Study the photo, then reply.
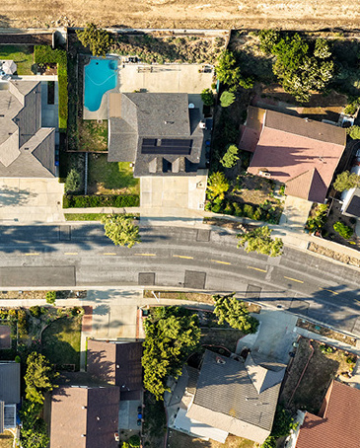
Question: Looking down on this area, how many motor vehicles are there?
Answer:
none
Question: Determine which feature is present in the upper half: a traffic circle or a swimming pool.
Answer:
swimming pool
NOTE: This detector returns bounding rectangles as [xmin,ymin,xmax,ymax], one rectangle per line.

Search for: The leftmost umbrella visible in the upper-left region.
[2,59,18,75]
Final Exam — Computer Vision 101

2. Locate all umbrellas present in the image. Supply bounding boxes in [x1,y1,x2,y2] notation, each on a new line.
[28,63,39,73]
[2,59,18,75]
